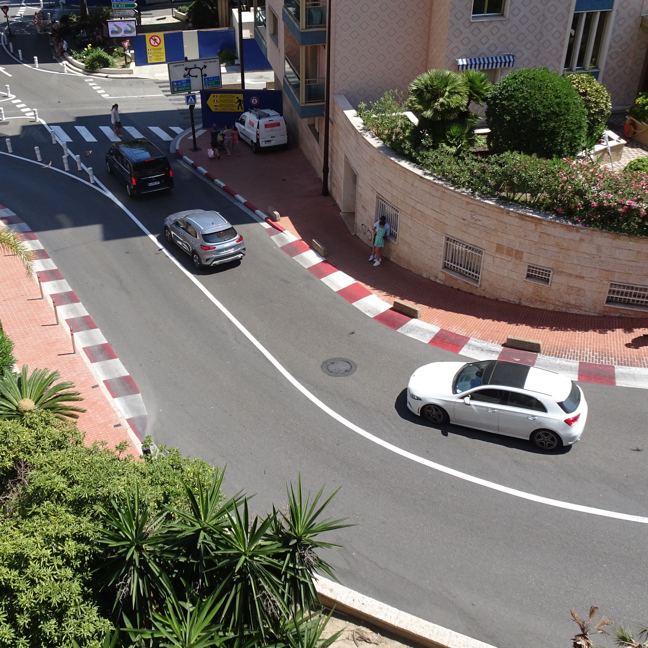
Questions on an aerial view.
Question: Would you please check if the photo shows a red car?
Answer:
No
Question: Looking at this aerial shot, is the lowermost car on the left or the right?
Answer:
right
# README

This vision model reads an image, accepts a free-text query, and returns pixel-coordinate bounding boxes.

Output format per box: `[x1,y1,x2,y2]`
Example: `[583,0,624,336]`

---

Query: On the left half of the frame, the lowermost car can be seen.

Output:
[159,206,246,270]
